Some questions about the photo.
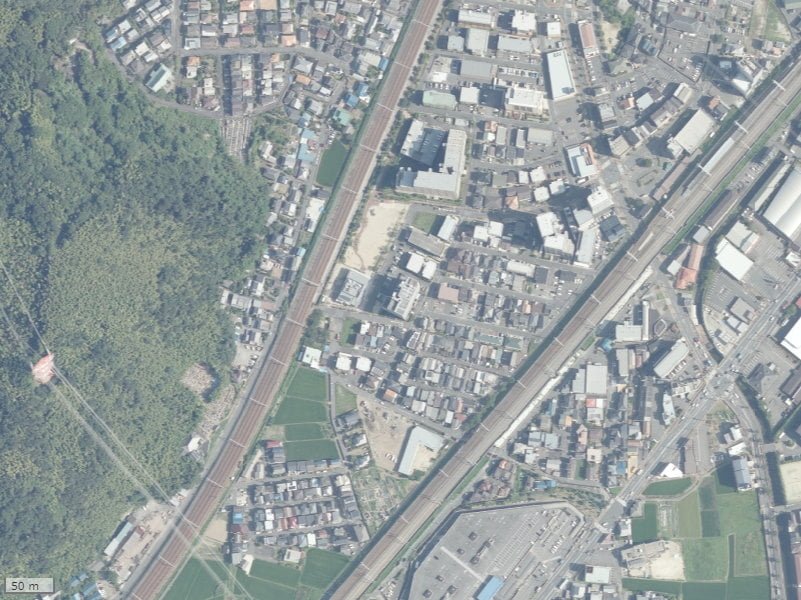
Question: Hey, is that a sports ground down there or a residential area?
residential area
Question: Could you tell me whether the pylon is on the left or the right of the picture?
left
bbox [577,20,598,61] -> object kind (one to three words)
building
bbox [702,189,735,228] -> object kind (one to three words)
shed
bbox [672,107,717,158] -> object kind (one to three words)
building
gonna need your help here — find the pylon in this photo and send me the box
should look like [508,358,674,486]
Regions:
[28,361,56,383]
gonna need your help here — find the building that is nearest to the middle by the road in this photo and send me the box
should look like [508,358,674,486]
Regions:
[386,275,421,323]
